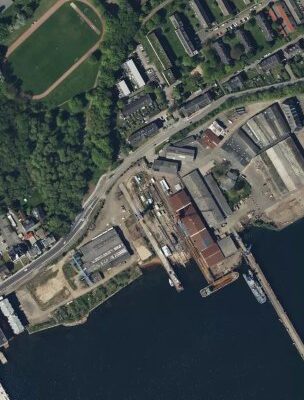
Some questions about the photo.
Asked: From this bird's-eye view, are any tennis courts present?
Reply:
No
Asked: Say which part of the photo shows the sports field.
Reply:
top left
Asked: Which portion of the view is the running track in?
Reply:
top left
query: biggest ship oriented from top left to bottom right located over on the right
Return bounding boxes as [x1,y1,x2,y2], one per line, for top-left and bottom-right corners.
[243,272,266,303]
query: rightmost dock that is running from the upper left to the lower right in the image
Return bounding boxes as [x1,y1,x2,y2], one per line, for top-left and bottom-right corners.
[238,243,304,361]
